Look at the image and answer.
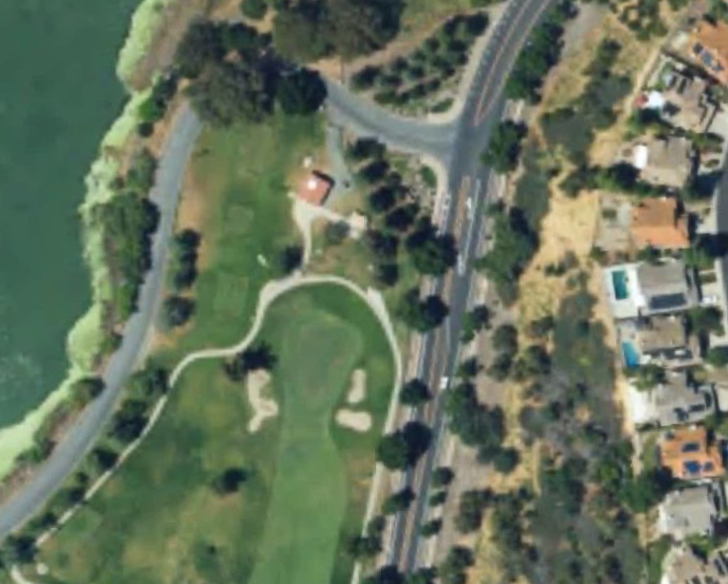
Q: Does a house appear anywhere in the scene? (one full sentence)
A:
Yes, this view includes a house.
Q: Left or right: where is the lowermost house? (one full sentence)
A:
The lowermost house is on the right side of the image.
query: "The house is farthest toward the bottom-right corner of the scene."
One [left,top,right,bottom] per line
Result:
[664,546,728,584]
